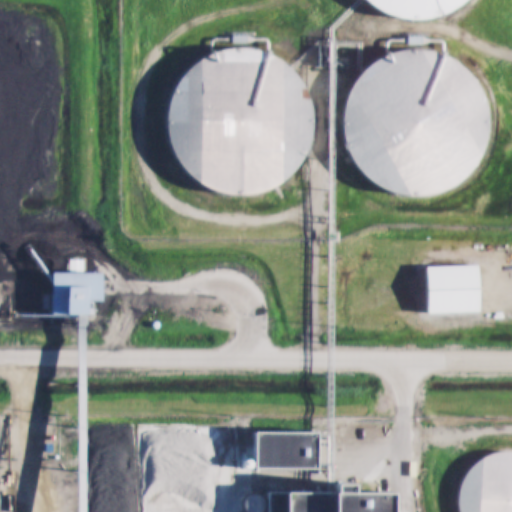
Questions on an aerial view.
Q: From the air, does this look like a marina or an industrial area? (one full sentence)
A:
The picture captures an industrial area.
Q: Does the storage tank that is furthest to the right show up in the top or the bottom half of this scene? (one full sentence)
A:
The storage tank that is furthest to the right sits in the bottom half of the picture.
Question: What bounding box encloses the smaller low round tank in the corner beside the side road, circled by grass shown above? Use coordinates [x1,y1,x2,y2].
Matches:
[457,450,512,512]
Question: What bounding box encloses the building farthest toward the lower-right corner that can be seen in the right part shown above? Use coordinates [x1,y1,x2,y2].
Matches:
[340,484,398,512]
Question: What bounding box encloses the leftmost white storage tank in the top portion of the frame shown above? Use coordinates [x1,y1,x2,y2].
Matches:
[168,32,318,200]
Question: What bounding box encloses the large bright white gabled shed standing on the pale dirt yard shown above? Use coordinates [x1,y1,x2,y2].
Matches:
[427,265,480,314]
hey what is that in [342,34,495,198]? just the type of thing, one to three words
storage tank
